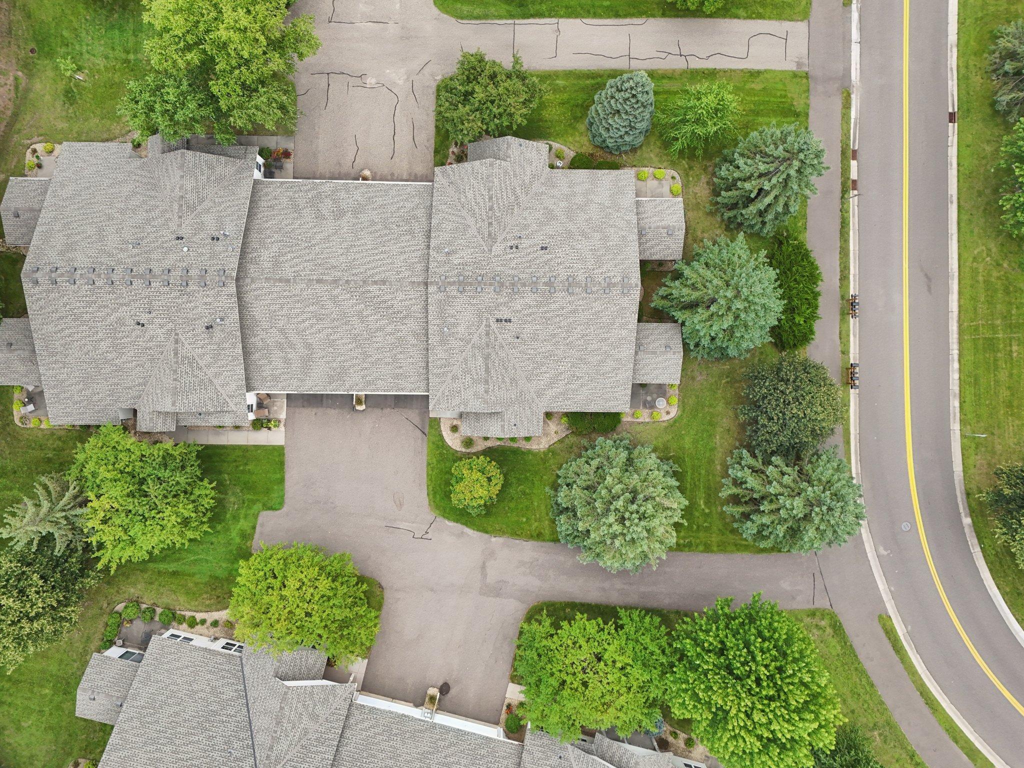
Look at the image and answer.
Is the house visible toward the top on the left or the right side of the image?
left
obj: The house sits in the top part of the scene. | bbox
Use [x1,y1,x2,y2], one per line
[0,135,685,438]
